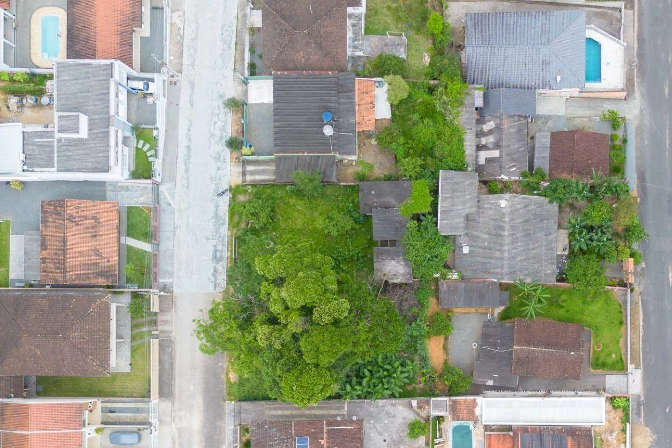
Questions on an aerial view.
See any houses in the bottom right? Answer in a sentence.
Yes, a house is visible in the bottom right.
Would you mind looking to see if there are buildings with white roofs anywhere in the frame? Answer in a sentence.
Yes, there's a building with a white roof down there.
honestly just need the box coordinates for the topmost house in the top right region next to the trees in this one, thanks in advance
[464,10,586,98]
